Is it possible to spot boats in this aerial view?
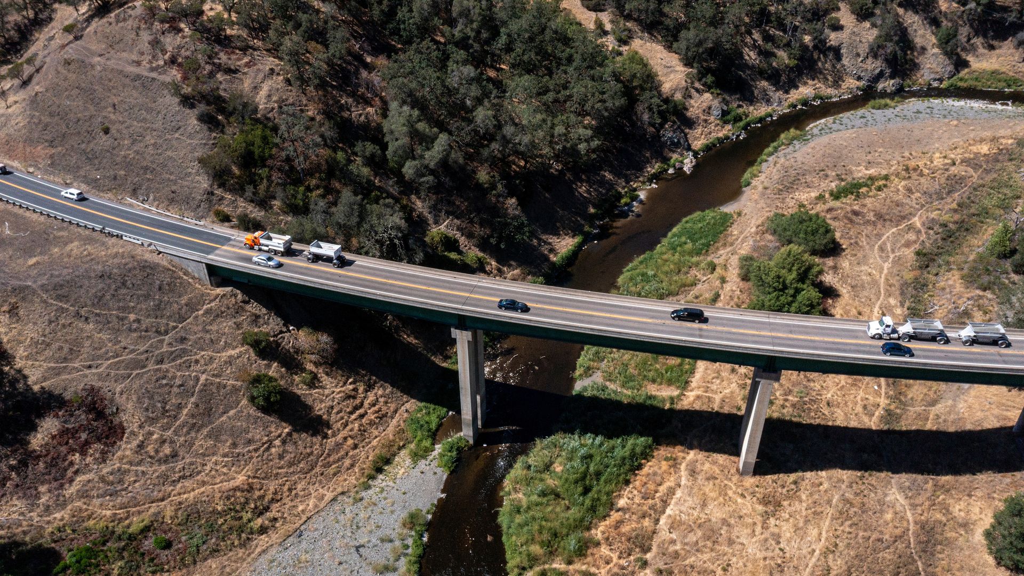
No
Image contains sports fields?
No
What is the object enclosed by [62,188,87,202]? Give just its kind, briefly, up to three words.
car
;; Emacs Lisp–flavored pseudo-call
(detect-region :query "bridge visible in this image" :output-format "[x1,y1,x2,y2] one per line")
[145,221,1024,470]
